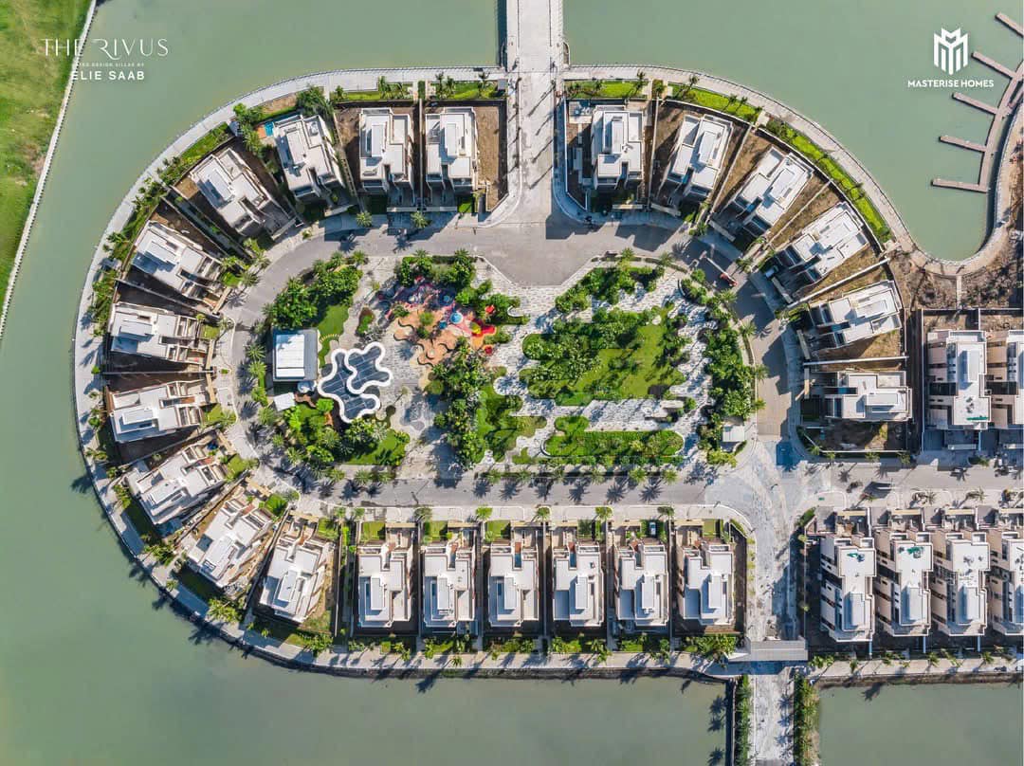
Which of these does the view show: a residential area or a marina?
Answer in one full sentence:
This looks like a residential area.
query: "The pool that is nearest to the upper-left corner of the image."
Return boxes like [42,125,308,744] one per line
[255,122,277,139]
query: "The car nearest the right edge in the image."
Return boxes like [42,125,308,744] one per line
[762,264,780,279]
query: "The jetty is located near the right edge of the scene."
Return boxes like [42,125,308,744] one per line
[931,10,1024,191]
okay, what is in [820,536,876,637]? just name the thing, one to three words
house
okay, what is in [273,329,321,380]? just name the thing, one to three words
building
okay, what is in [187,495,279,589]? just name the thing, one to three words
house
